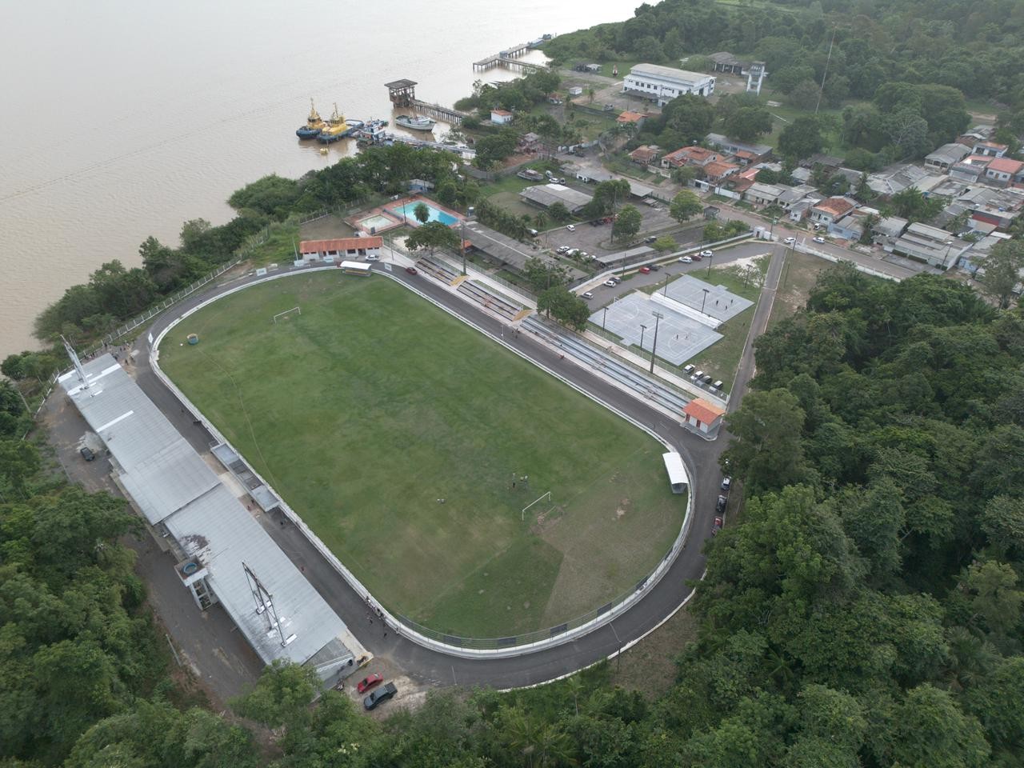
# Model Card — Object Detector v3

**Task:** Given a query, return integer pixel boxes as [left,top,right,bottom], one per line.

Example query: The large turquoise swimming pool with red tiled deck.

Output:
[383,195,467,235]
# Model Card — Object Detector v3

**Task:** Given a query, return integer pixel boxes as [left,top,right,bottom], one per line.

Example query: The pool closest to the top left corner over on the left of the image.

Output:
[346,210,404,234]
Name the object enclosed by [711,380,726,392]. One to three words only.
vehicle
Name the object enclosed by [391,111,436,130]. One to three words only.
boat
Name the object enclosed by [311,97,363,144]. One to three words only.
boat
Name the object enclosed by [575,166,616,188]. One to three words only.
building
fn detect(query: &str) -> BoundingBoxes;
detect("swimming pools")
[346,210,404,234]
[383,195,467,235]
